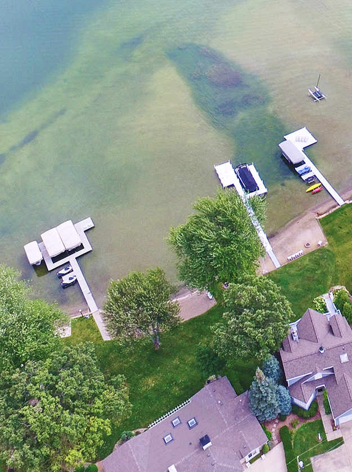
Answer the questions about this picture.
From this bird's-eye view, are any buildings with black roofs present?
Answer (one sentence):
No, I can see no building with a black roof in this picture.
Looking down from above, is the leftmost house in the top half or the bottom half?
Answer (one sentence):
The leftmost house is in the bottom half of the image.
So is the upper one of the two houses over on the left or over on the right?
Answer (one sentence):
The upper one of the two houses sits on the right side.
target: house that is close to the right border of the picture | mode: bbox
[279,290,352,422]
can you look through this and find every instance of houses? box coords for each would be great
[279,290,352,422]
[102,376,269,472]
